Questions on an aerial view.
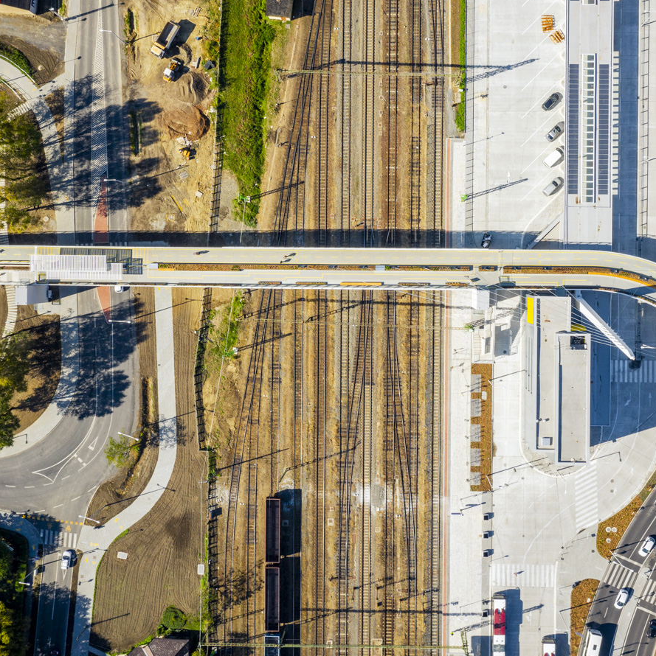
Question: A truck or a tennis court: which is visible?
truck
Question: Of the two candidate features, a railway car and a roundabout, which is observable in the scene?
railway car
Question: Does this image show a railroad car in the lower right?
No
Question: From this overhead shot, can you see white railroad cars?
No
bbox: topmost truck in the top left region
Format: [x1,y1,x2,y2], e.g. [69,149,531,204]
[148,15,182,60]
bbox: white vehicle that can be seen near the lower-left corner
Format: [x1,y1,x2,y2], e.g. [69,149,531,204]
[61,548,74,572]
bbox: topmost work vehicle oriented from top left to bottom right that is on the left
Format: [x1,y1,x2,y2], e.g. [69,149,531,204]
[178,146,198,165]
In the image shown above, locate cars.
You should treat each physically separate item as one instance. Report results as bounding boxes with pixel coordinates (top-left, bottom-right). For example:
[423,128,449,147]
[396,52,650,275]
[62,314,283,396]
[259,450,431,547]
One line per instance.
[613,586,631,611]
[639,533,656,558]
[542,145,565,171]
[542,90,563,113]
[480,229,493,249]
[543,175,565,199]
[647,618,656,641]
[114,288,125,297]
[544,120,565,144]
[61,548,74,572]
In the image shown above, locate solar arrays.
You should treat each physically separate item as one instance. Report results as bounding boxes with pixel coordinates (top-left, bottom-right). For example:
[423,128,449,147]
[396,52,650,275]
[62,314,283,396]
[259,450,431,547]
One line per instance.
[571,63,580,194]
[600,63,610,194]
